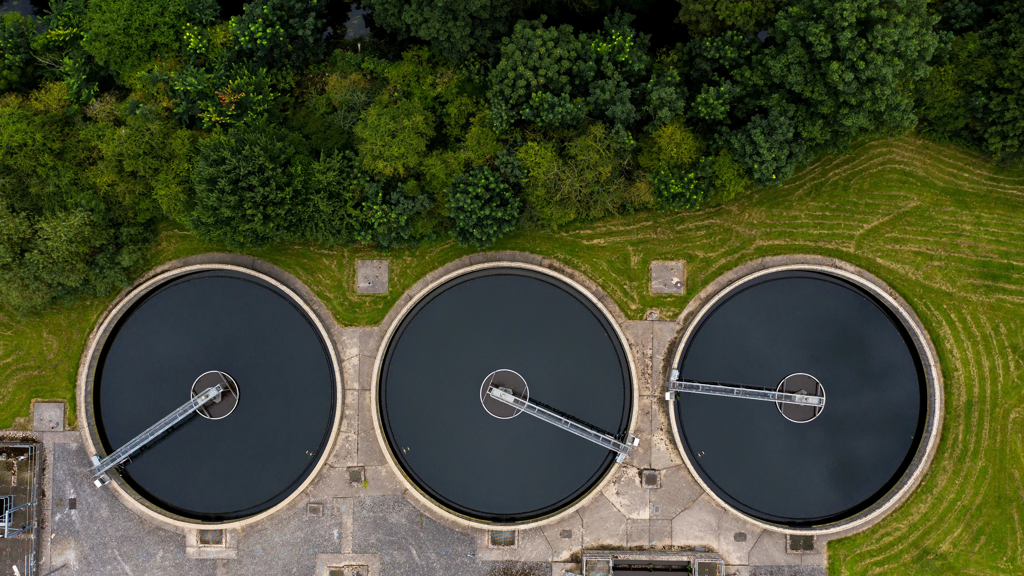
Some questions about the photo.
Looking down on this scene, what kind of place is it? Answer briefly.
industrial area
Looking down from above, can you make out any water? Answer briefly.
Yes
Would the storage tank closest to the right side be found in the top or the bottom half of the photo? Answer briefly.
bottom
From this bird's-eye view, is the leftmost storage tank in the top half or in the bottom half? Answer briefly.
bottom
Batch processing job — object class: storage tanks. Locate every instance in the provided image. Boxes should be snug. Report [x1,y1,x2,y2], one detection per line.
[80,264,344,530]
[667,264,940,535]
[371,263,638,532]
